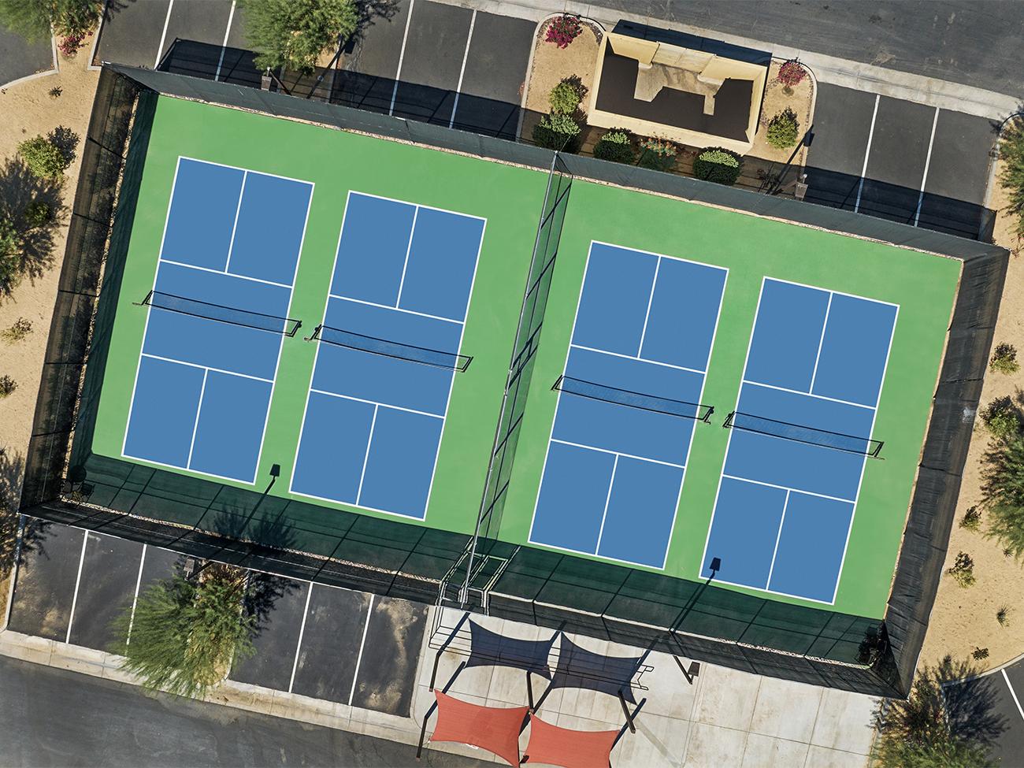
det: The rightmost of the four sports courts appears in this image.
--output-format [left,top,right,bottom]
[671,220,960,666]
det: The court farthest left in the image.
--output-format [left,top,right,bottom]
[69,94,343,539]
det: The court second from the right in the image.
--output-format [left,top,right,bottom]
[468,178,757,624]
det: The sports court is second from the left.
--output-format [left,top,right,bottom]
[263,135,550,582]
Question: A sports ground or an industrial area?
sports ground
